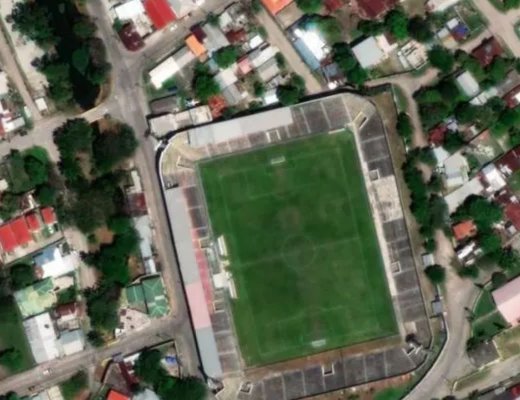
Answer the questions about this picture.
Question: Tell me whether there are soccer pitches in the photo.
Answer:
Yes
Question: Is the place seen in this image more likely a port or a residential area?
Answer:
residential area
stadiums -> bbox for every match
[161,92,433,400]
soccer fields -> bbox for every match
[199,128,401,366]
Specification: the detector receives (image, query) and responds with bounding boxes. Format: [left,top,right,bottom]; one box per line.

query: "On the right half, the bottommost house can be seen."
[471,340,501,370]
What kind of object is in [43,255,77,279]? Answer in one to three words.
house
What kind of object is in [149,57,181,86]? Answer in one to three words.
building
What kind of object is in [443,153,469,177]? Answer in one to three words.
house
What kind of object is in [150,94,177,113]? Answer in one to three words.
shed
